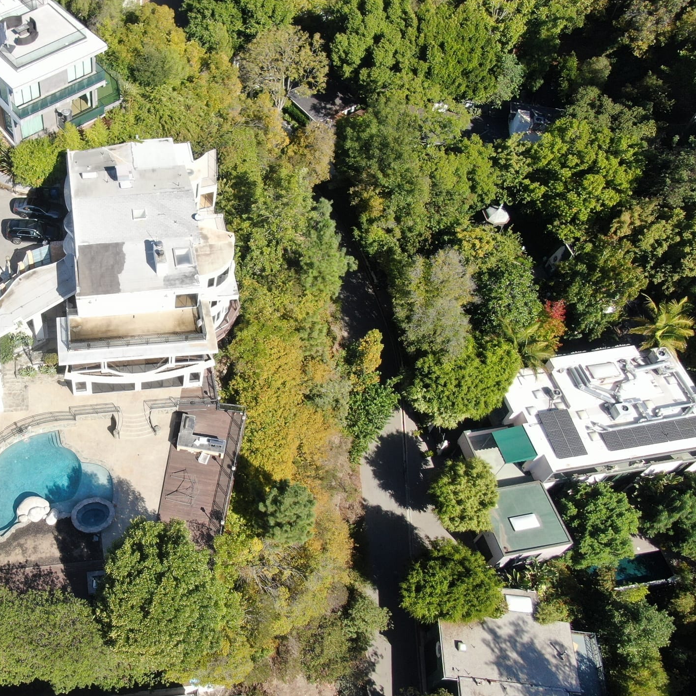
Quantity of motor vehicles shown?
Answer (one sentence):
The count of motor vehicles comes to 2.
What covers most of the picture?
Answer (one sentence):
What you mostly see from above here is trees.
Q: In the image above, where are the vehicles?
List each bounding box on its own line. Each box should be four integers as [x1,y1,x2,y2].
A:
[3,219,63,249]
[8,199,67,225]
